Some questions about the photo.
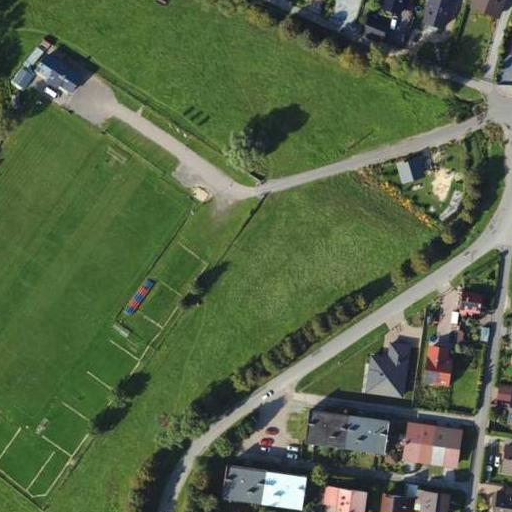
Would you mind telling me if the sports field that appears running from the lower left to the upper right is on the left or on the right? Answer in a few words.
left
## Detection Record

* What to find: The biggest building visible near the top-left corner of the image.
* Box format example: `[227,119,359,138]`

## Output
[36,53,84,94]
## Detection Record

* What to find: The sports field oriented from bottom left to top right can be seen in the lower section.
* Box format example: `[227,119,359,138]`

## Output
[0,203,209,504]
